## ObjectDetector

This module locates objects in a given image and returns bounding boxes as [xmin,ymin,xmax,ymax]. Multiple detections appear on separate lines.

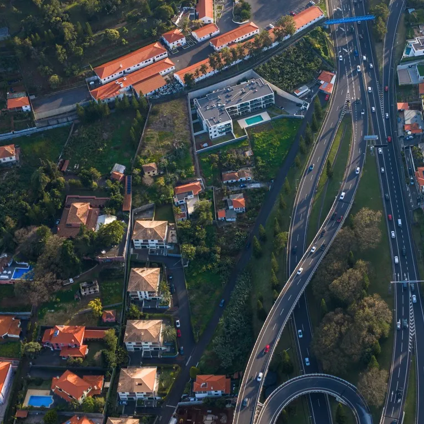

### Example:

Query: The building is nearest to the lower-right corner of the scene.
[194,375,231,399]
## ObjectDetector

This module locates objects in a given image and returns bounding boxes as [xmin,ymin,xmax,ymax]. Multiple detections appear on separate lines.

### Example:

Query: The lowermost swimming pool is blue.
[25,393,54,408]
